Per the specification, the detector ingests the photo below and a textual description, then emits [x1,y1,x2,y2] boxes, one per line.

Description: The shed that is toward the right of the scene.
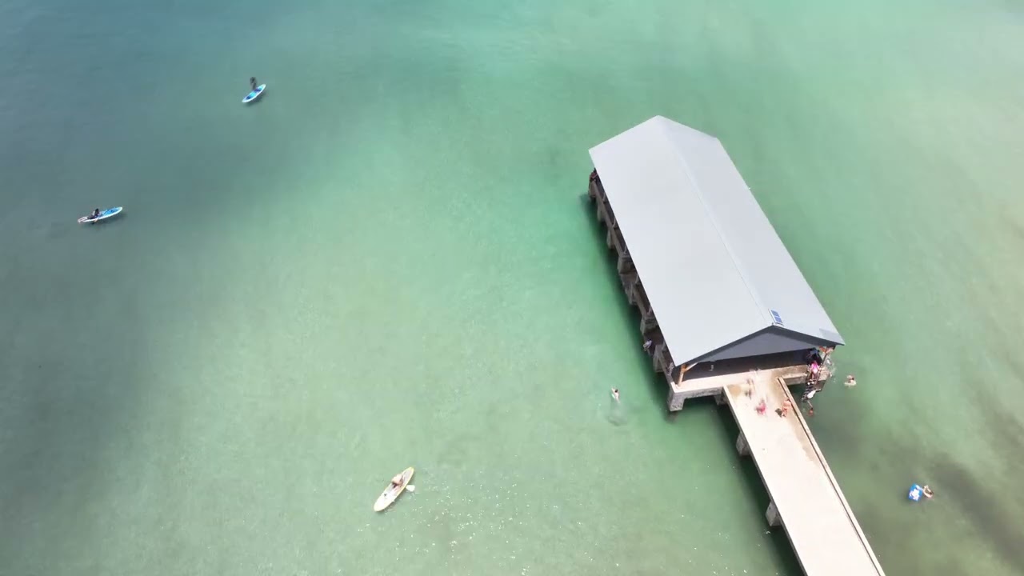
[590,115,844,387]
